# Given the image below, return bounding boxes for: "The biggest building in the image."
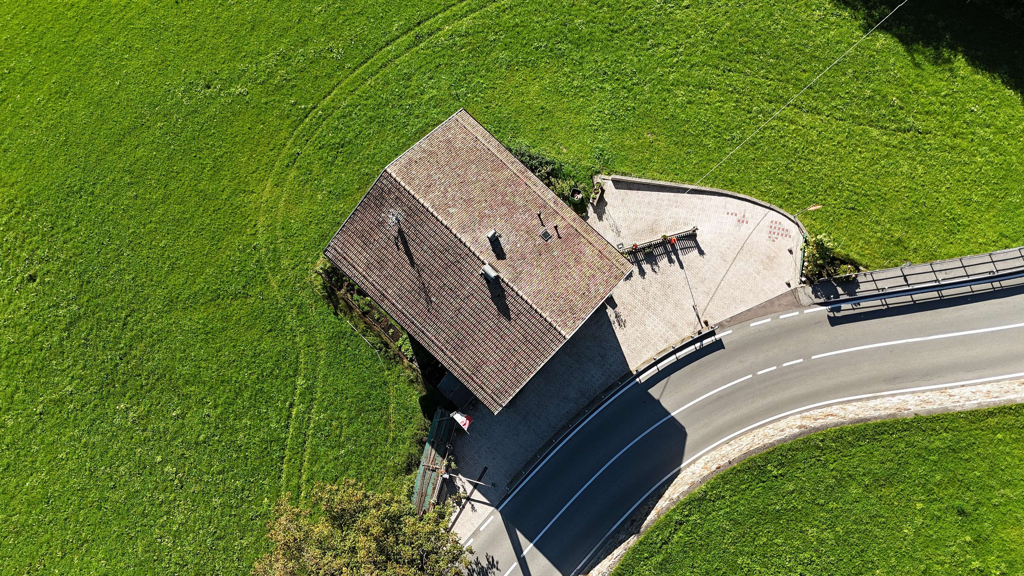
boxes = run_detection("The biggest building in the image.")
[323,107,633,416]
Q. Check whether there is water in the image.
No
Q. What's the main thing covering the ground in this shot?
grass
